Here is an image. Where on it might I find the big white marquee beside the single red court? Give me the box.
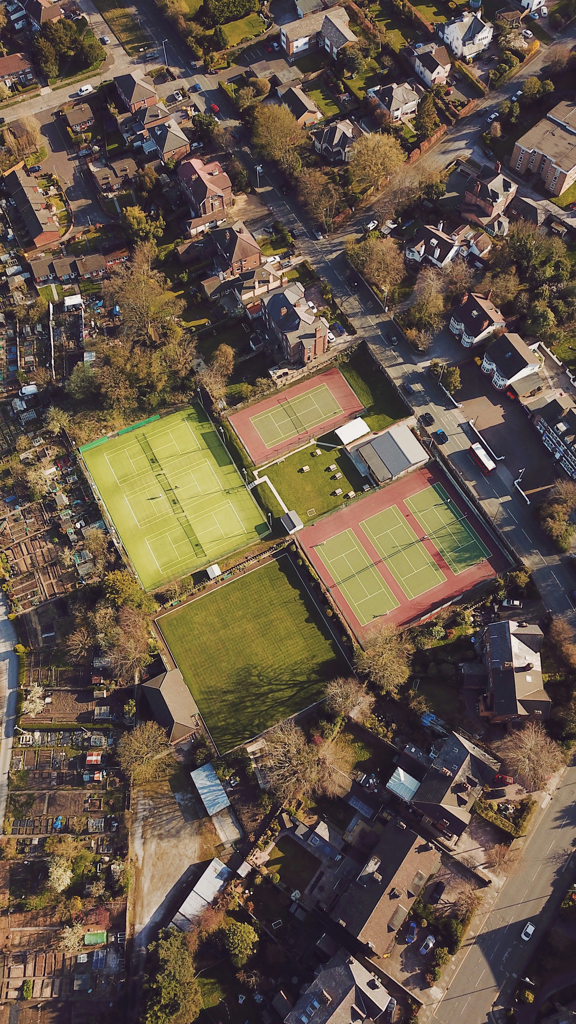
[334,418,370,450]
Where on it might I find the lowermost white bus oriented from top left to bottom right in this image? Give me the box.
[468,439,501,479]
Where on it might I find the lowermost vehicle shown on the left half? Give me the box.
[18,381,39,396]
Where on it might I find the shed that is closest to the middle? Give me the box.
[281,511,304,535]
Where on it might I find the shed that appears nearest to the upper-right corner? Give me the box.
[499,7,525,27]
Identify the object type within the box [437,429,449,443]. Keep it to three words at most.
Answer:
vehicle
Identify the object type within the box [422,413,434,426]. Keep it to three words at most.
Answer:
vehicle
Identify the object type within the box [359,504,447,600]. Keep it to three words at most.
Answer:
tennis court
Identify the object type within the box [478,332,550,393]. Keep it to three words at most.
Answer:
house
